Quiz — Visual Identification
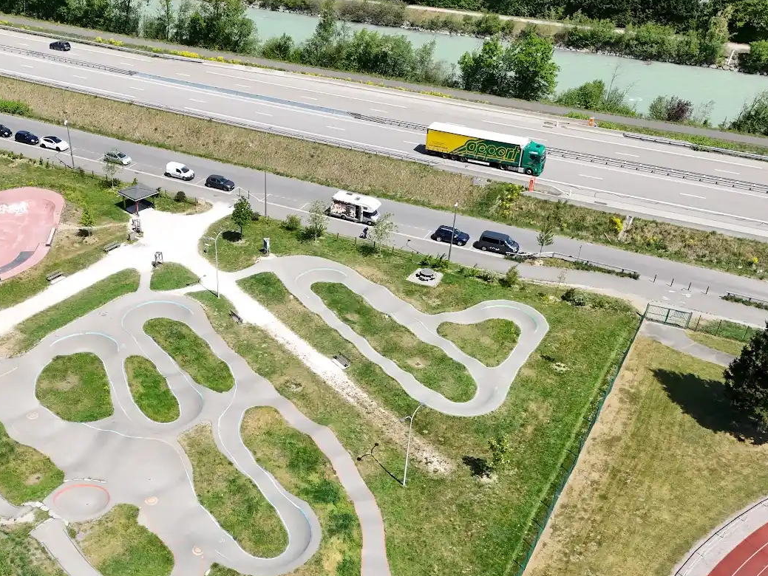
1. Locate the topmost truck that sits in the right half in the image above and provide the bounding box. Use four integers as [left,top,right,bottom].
[427,120,549,175]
